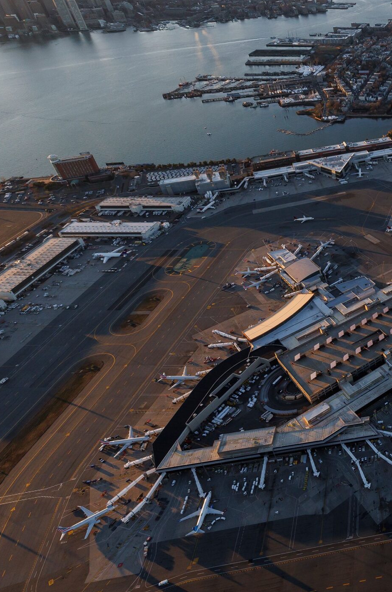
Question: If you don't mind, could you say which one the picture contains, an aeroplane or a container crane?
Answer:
aeroplane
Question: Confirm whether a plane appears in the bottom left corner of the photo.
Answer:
Yes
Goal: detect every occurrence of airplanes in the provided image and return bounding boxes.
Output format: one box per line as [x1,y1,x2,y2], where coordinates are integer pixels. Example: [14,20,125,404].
[292,215,315,223]
[236,266,259,276]
[316,236,335,250]
[244,280,268,289]
[92,244,133,263]
[99,424,152,455]
[155,361,199,389]
[196,202,214,211]
[59,505,118,537]
[177,491,221,533]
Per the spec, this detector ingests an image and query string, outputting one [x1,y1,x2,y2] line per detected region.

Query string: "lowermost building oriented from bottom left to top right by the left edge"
[0,237,87,300]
